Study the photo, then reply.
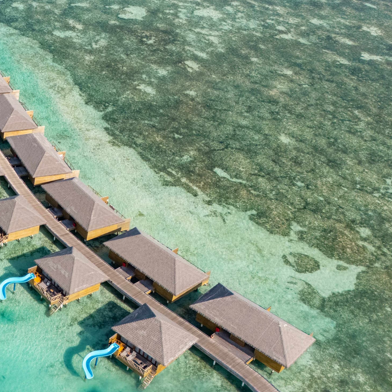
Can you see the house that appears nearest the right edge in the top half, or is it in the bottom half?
bottom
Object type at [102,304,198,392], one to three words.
house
